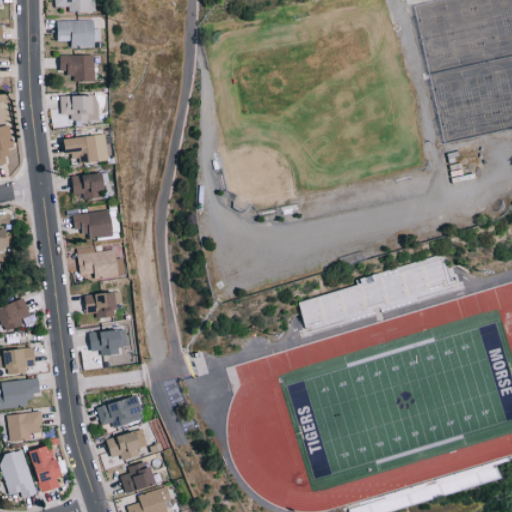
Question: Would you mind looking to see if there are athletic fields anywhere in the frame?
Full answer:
Yes, I can see an athletic field in this picture.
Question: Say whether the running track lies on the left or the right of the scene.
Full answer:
The running track appears in the right half of the scene.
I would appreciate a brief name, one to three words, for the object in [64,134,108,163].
house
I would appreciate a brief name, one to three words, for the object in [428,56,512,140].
sports court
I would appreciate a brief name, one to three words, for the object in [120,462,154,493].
house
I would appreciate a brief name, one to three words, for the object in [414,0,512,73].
sports court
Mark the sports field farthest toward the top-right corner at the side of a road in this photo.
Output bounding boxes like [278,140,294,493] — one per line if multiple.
[203,0,422,209]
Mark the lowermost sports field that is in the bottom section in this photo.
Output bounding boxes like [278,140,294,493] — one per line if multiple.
[280,311,512,488]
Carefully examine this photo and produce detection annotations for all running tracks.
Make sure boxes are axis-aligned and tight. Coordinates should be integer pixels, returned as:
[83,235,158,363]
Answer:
[227,280,512,511]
